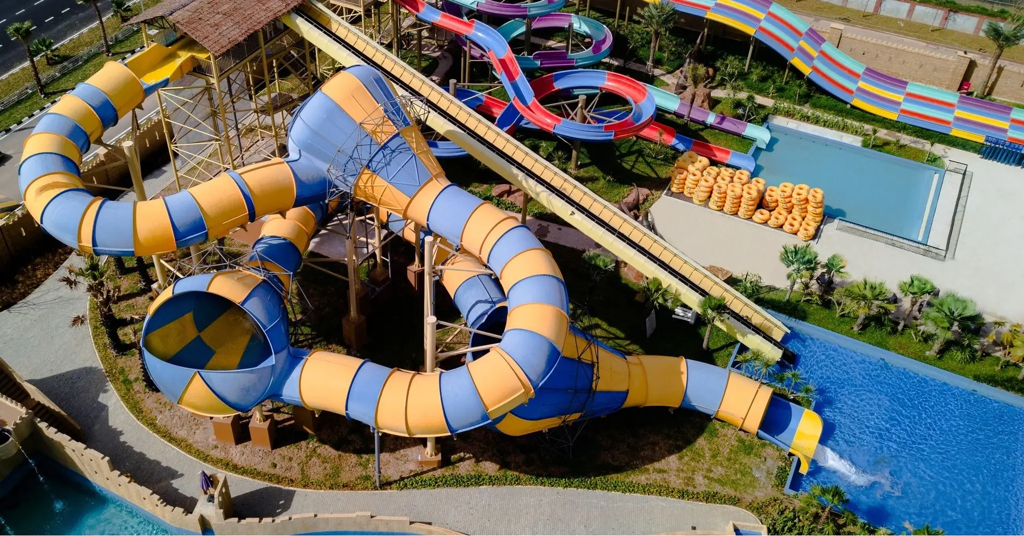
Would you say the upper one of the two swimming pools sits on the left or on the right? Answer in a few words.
right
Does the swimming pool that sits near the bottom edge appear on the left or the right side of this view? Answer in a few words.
right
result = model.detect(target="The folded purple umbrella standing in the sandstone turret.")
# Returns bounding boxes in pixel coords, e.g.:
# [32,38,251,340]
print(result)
[196,470,214,499]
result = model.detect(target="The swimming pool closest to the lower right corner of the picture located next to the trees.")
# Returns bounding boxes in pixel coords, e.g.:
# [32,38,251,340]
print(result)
[735,330,1024,536]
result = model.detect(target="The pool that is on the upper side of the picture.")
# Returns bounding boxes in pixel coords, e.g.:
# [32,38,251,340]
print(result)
[752,123,934,243]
